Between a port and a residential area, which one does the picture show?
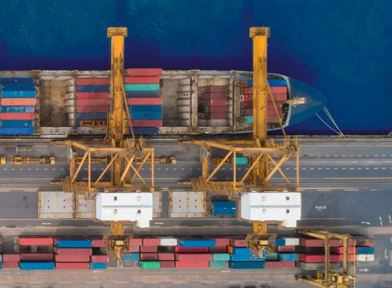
port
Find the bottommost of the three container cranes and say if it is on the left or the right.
right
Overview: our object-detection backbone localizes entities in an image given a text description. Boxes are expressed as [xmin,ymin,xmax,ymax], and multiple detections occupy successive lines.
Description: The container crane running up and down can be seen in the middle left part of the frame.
[51,17,156,265]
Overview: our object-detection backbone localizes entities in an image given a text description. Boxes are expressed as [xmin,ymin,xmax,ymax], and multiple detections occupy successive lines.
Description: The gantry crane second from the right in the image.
[178,17,303,265]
